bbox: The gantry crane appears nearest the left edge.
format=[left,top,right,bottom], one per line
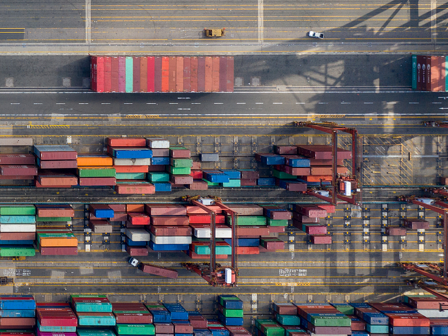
[181,197,241,288]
